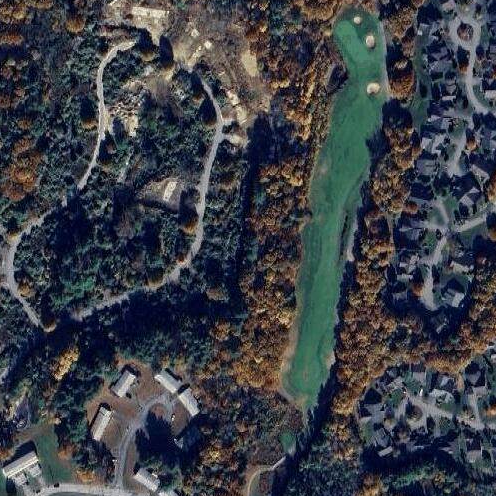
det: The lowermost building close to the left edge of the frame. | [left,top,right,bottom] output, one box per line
[1,450,42,484]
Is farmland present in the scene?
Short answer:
No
